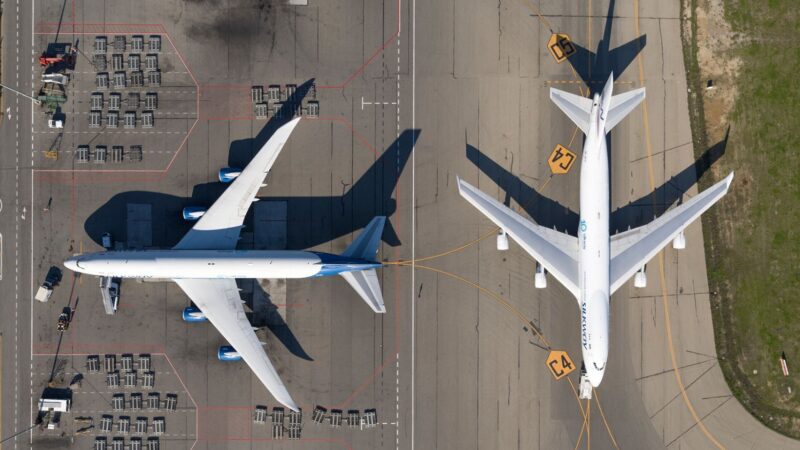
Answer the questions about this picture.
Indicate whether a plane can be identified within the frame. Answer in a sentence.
Yes, there is a plane in the image.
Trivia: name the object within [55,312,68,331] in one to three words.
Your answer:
vehicle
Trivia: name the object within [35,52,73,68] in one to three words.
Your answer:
vehicle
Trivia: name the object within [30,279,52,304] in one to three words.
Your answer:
truck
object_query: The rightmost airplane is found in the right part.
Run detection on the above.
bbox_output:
[459,73,736,387]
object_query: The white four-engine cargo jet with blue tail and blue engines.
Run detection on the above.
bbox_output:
[64,117,387,411]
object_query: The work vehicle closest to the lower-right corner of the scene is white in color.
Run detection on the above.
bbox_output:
[579,377,592,398]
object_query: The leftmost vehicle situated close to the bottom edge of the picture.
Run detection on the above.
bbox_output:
[35,400,65,431]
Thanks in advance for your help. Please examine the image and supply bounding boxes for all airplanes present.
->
[459,73,736,387]
[64,117,387,411]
